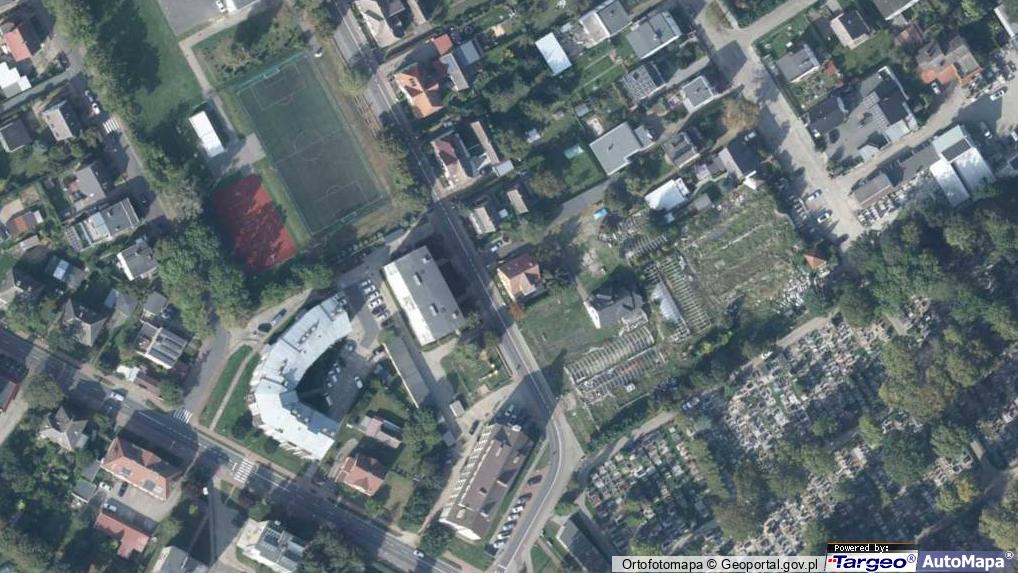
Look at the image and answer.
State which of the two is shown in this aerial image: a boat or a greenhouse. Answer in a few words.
greenhouse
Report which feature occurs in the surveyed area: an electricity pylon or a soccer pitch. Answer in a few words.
soccer pitch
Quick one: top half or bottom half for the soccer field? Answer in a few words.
top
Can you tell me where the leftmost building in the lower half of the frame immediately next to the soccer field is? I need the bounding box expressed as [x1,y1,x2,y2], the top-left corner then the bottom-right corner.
[244,293,352,469]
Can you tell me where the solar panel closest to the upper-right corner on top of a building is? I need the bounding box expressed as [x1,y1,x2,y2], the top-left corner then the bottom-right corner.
[864,96,889,125]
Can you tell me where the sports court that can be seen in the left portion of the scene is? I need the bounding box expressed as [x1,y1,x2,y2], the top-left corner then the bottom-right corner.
[214,174,297,272]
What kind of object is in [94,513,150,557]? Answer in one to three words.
shed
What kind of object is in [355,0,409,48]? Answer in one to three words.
house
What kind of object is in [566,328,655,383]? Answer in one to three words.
greenhouse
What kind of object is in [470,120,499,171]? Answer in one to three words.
building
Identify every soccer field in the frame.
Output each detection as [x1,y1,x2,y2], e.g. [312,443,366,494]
[238,56,389,233]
